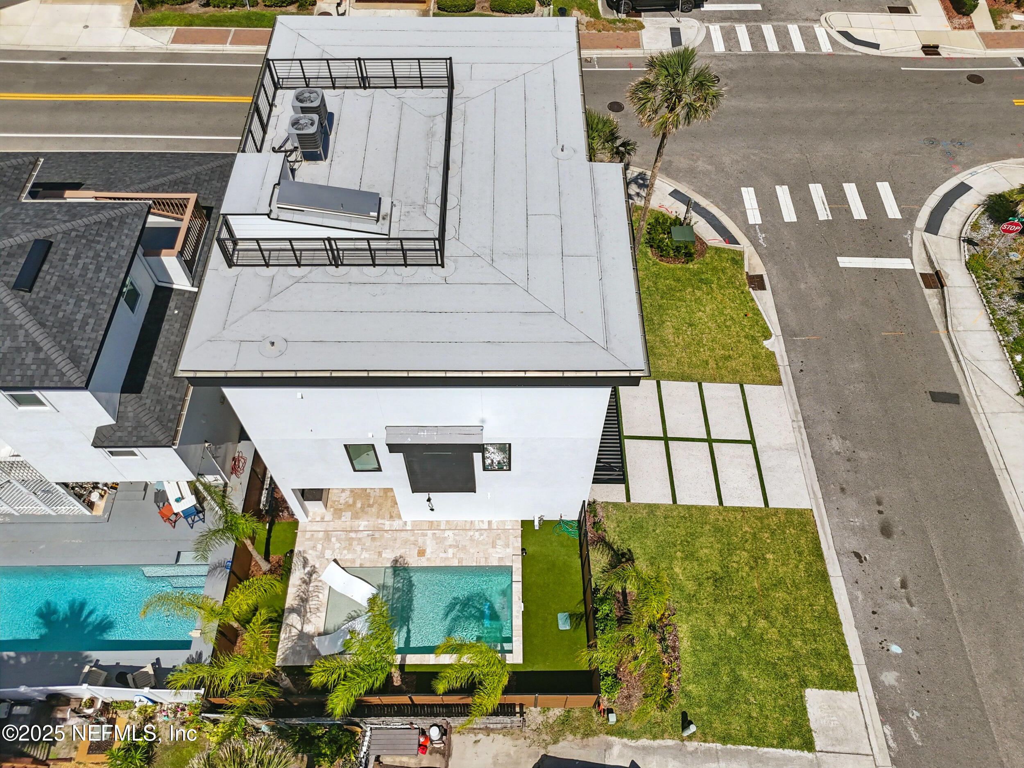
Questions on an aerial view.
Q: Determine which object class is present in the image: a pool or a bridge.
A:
pool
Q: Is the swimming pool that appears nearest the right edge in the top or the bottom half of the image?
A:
bottom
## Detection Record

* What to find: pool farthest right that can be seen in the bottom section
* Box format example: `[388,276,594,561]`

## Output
[327,566,523,654]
